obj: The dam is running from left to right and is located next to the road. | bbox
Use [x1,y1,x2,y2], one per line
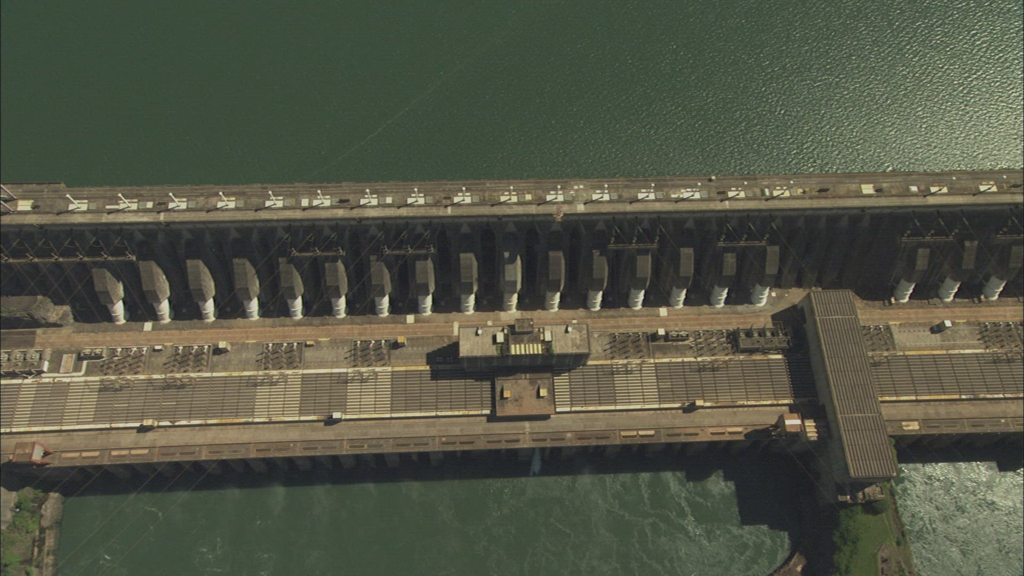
[0,169,1024,323]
